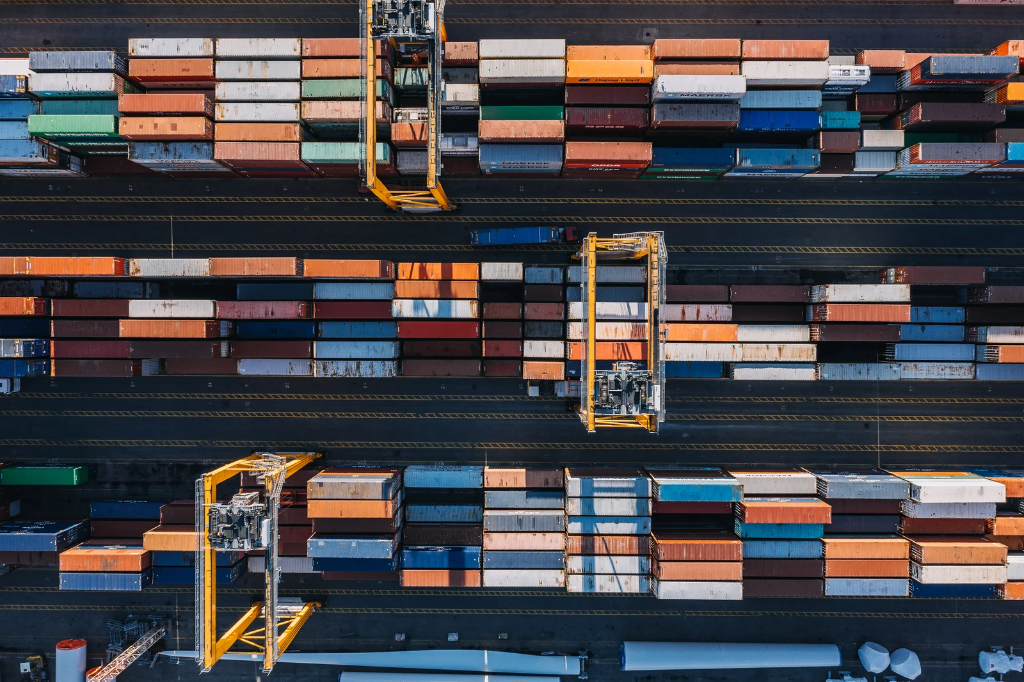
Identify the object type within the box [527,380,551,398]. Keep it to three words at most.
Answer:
vehicle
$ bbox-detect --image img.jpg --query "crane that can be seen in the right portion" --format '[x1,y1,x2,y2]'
[561,229,671,437]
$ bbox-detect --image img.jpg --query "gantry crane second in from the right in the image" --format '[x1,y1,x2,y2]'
[358,0,467,215]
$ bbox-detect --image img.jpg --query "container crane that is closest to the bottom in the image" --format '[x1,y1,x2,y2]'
[194,443,334,671]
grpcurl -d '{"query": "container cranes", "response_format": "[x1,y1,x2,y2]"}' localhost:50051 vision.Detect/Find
[358,0,467,215]
[194,443,334,671]
[561,229,671,437]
